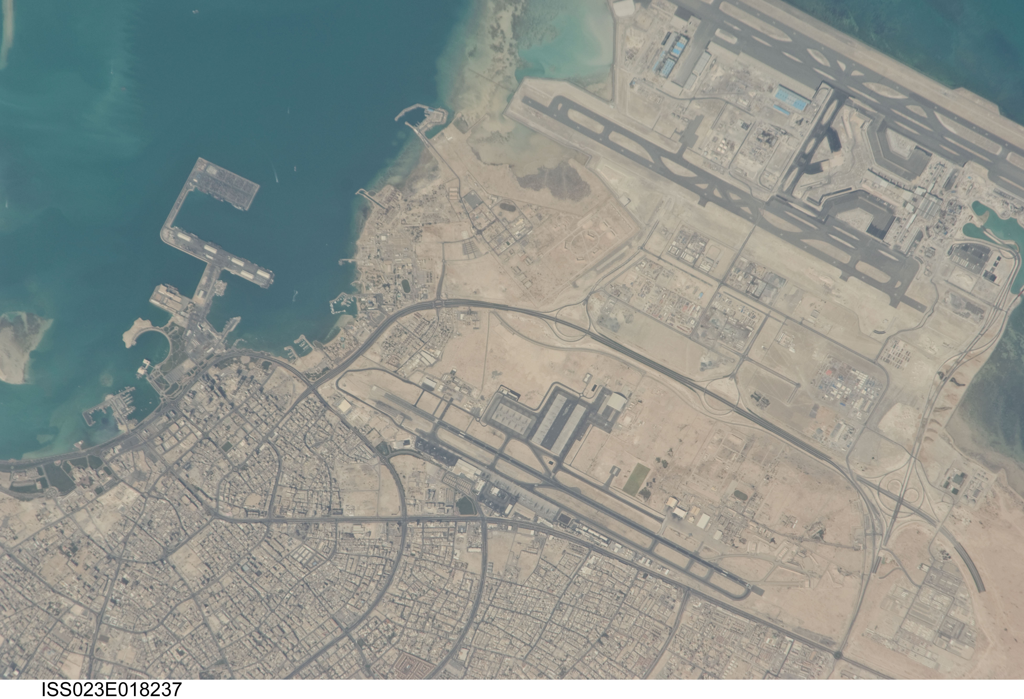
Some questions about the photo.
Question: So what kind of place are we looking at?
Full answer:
The picture captures a port.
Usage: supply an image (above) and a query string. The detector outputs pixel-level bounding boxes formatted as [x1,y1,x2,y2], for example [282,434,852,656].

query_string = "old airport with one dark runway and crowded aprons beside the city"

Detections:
[371,385,809,601]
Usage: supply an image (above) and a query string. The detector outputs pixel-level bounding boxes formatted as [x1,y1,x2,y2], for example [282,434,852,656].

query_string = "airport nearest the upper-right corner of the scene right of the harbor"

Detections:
[516,0,1024,312]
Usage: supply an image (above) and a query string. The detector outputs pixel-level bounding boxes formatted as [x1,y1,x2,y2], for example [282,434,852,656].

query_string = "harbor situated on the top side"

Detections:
[160,157,274,314]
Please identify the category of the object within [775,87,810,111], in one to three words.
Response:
building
